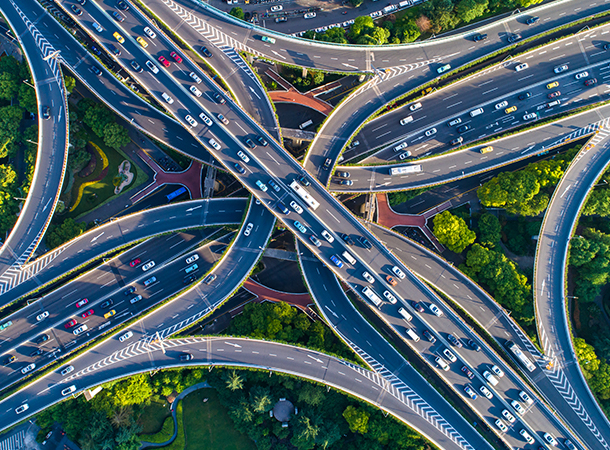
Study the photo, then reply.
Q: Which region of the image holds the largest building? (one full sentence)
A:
The largest building is located in the bottom region of the scene.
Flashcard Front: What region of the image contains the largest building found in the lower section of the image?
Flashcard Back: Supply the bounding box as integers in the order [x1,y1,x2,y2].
[272,396,295,420]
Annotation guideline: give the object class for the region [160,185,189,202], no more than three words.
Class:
vehicle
